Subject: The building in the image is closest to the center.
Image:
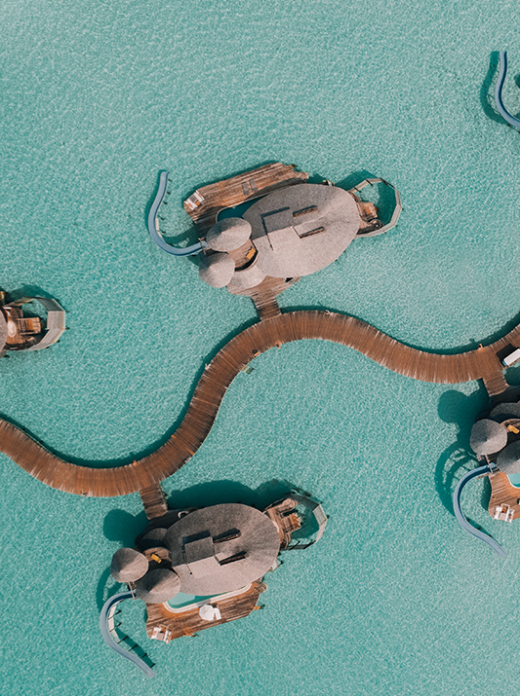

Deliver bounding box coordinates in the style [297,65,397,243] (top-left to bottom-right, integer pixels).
[178,165,385,323]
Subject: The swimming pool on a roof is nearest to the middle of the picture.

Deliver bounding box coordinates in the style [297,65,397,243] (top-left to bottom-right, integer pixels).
[214,195,265,223]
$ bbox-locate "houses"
[109,485,311,643]
[178,165,385,323]
[0,301,46,363]
[471,366,520,521]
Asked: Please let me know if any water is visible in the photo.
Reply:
Yes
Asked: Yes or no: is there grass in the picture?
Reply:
No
